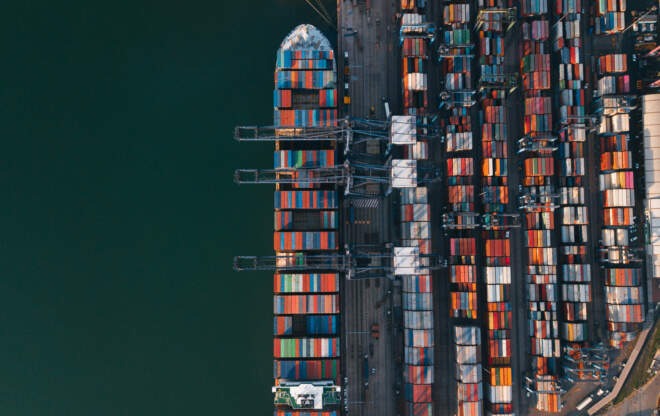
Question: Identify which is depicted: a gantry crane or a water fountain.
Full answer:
Looking from above, you can make out a gantry crane.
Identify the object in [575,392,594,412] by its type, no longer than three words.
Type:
vehicle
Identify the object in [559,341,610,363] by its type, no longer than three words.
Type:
container crane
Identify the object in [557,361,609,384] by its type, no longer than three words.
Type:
container crane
